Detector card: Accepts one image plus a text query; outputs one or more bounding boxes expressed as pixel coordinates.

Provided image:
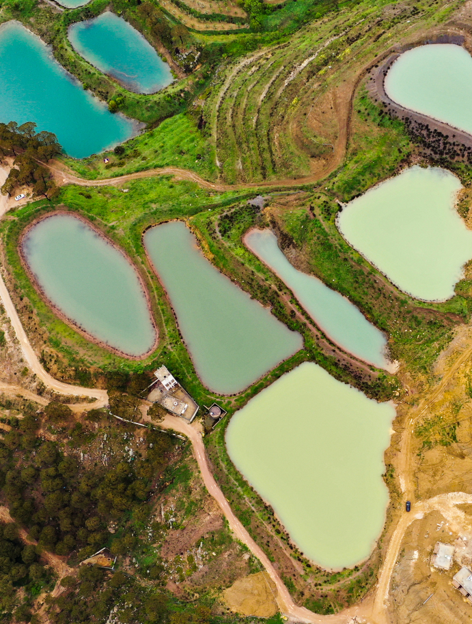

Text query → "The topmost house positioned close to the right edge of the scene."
[430,543,455,569]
